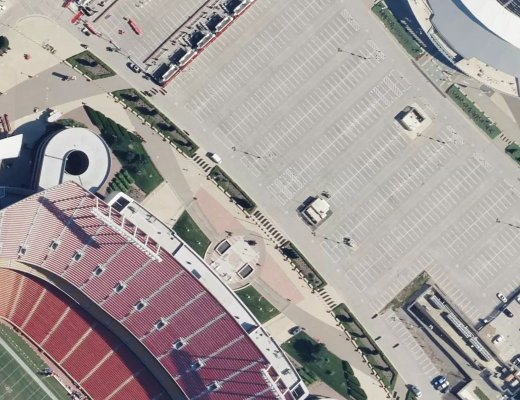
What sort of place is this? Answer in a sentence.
This image shows a sports ground.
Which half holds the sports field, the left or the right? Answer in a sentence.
It is on the left.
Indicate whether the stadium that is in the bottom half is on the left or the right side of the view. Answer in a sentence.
You can find the stadium that is in the bottom half on the left side of the picture.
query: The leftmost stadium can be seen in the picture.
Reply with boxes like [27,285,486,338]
[0,180,312,400]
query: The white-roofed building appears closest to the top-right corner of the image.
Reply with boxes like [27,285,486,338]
[400,108,425,131]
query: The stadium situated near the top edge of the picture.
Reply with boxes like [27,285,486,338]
[400,0,520,106]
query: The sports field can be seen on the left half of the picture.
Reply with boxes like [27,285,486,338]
[0,320,90,400]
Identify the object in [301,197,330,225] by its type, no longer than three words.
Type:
building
